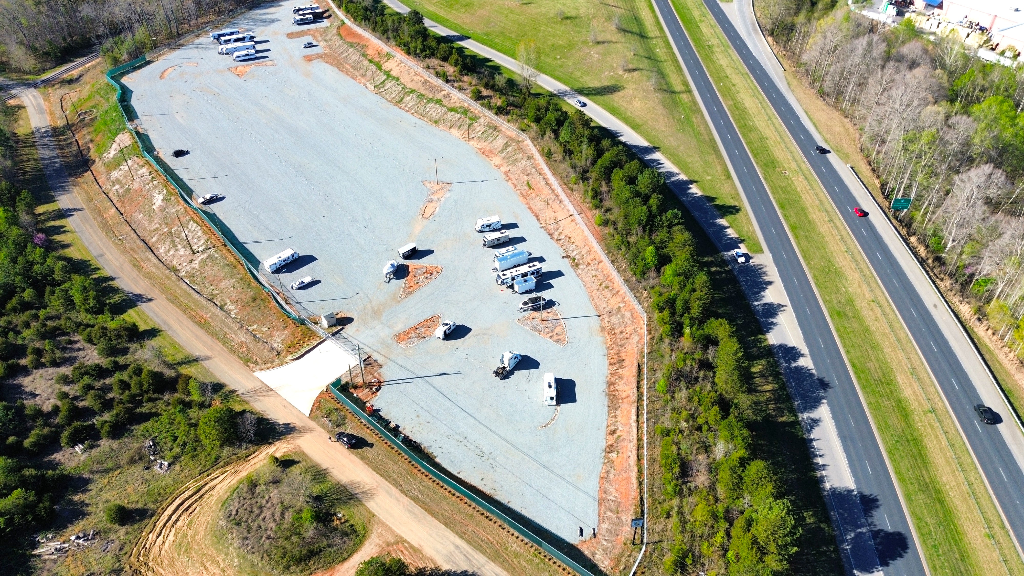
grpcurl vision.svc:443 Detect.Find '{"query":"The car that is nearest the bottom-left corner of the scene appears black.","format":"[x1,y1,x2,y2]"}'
[334,430,355,448]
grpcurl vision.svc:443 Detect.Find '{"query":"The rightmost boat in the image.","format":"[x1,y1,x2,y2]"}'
[517,294,550,308]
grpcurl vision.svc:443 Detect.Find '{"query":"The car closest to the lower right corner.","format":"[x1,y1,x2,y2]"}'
[977,403,996,422]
